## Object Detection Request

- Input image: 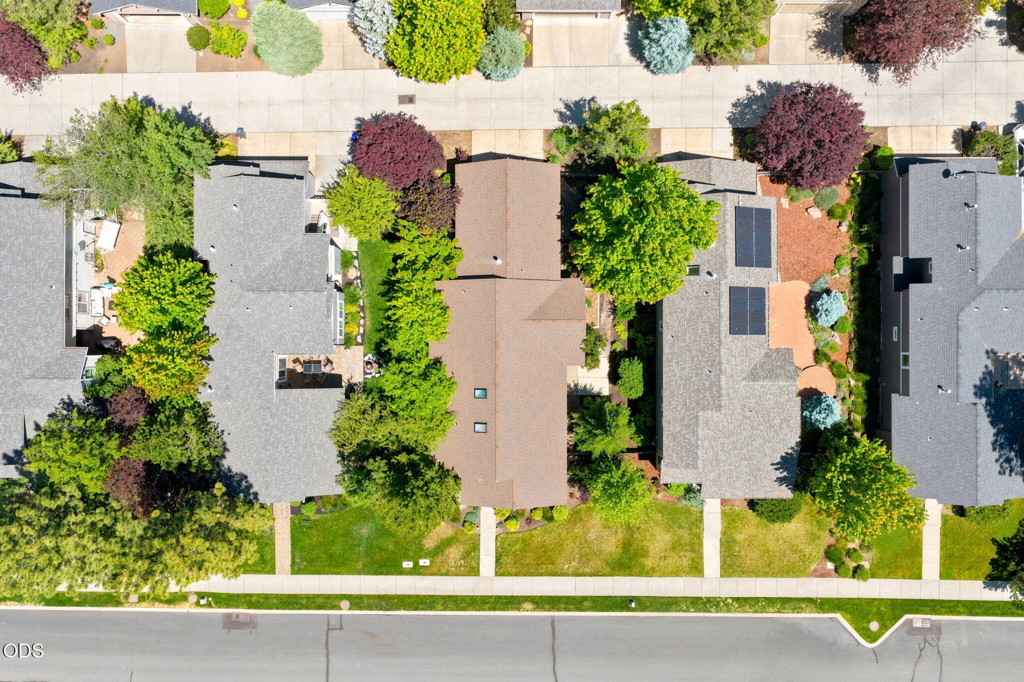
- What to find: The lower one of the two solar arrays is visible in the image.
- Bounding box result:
[731,286,767,336]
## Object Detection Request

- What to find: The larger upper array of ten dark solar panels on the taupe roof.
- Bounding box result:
[737,205,773,268]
